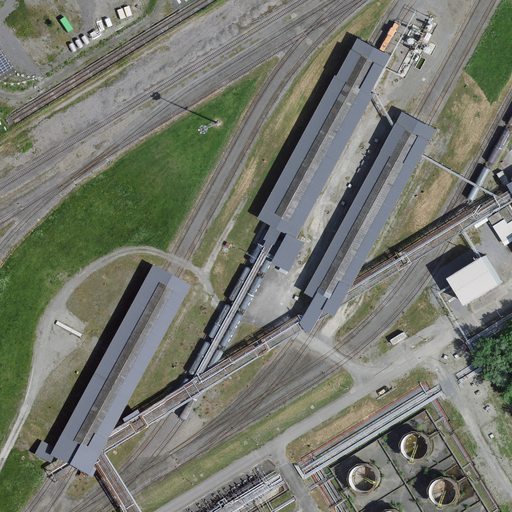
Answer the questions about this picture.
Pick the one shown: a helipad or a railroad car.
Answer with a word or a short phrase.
railroad car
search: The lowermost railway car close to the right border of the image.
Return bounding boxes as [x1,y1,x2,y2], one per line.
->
[469,166,492,202]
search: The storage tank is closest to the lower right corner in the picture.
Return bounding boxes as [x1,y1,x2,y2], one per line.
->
[428,476,460,508]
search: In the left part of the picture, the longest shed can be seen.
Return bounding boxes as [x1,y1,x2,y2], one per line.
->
[52,264,194,478]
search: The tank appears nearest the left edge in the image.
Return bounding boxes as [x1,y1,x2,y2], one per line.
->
[348,462,381,494]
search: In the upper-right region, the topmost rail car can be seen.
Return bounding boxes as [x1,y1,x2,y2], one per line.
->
[380,22,400,50]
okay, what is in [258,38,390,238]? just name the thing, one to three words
shed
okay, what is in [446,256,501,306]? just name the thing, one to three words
building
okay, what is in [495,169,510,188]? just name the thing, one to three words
vehicle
